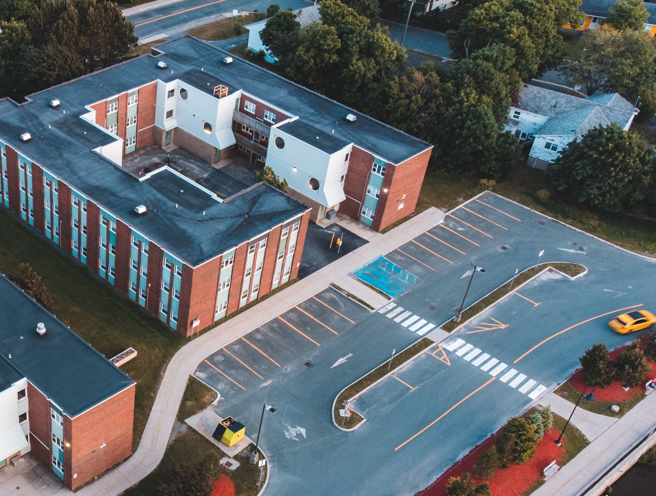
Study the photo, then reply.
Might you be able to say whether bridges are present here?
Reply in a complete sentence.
No, there isn't any bridge down there.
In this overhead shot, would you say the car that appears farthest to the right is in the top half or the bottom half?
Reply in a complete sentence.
The bottom half of the photo is where the car that appears farthest to the right is.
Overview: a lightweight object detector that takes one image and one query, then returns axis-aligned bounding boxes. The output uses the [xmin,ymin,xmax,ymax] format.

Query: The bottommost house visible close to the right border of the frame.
[509,82,634,171]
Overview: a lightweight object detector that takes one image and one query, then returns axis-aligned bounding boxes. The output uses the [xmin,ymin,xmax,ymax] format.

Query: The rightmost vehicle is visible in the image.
[609,312,656,337]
